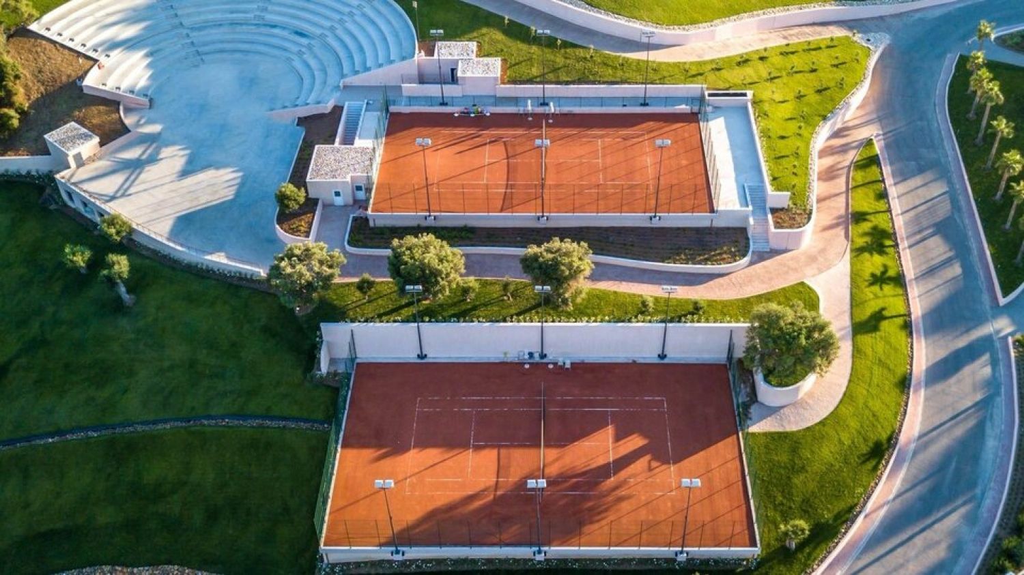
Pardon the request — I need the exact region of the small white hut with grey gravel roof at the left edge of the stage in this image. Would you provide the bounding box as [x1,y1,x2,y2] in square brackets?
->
[47,123,104,169]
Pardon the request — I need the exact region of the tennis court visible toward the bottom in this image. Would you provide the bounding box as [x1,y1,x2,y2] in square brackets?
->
[324,362,756,548]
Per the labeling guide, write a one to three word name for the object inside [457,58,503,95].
building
